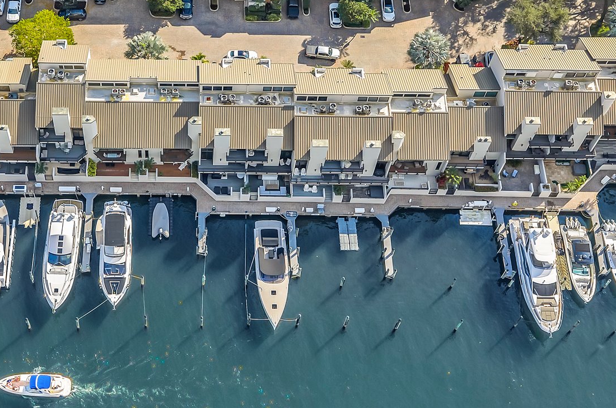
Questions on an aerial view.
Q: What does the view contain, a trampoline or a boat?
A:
boat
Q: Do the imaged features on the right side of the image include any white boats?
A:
Yes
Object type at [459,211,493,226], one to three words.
pier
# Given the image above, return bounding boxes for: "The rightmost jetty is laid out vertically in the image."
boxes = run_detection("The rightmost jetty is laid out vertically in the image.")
[582,212,613,278]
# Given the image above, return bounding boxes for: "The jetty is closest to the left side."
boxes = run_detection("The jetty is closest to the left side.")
[19,198,40,226]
